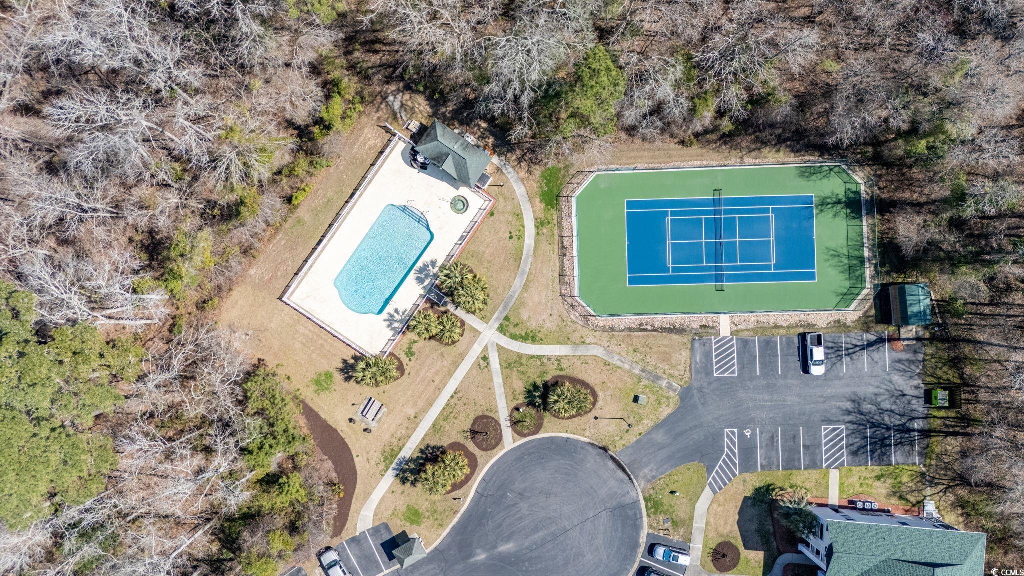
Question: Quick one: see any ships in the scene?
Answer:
No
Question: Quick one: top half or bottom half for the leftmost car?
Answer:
bottom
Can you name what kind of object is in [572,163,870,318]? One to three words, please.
tennis court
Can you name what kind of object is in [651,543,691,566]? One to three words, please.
car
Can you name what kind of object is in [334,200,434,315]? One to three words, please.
swimming pool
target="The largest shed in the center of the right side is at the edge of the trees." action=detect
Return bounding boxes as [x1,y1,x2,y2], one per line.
[890,284,933,325]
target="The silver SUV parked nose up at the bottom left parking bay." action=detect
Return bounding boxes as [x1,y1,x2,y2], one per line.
[320,547,350,576]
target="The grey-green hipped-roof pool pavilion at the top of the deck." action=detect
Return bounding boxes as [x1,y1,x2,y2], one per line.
[415,119,492,188]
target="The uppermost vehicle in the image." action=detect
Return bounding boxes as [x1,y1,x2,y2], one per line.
[805,331,828,376]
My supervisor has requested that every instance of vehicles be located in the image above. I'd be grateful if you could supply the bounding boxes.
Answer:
[320,547,350,576]
[651,543,691,566]
[644,566,681,576]
[805,331,828,376]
